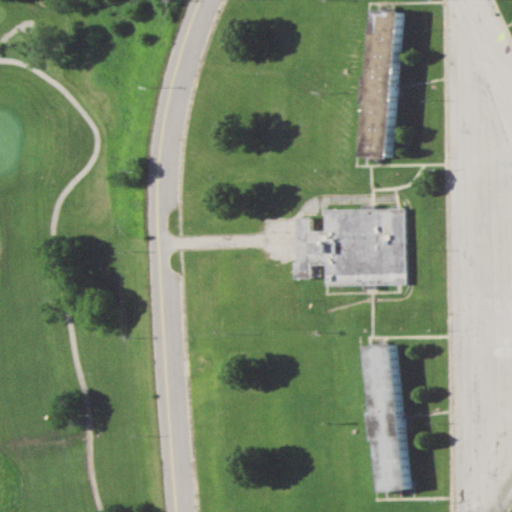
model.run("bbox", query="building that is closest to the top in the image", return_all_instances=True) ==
[357,12,403,160]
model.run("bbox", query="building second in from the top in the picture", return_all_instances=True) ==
[293,208,408,290]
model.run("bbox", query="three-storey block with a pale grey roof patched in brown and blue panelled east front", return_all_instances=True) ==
[361,344,412,492]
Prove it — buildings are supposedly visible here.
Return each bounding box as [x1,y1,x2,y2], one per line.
[357,12,403,160]
[293,208,408,290]
[361,344,412,492]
